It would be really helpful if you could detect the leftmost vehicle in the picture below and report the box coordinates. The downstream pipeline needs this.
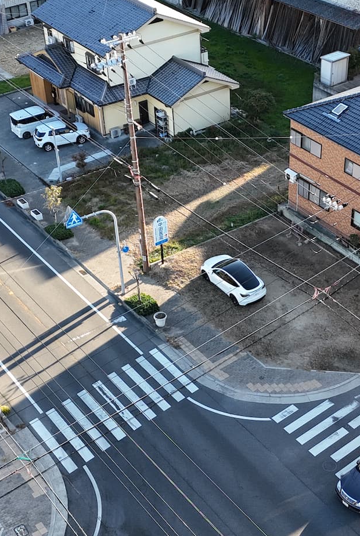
[11,107,56,135]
